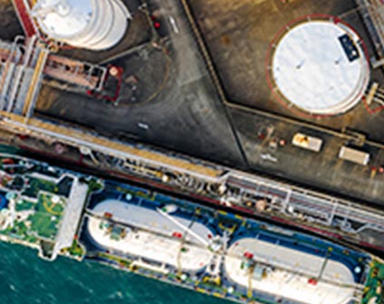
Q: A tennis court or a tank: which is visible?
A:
tank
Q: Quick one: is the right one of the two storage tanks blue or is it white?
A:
white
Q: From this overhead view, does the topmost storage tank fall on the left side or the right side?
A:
left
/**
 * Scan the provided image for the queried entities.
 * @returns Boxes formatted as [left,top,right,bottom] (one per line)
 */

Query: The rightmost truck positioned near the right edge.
[336,145,370,166]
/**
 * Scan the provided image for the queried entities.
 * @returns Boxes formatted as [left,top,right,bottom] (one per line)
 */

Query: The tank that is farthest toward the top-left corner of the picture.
[35,0,125,54]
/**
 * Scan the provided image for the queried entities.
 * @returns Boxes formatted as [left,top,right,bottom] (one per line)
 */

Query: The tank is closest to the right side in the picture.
[266,14,370,119]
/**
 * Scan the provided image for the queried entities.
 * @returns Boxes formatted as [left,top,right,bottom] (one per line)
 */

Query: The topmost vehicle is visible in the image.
[290,132,322,151]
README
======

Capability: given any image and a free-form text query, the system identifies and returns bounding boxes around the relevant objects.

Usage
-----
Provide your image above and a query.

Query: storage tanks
[35,0,125,54]
[266,14,370,119]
